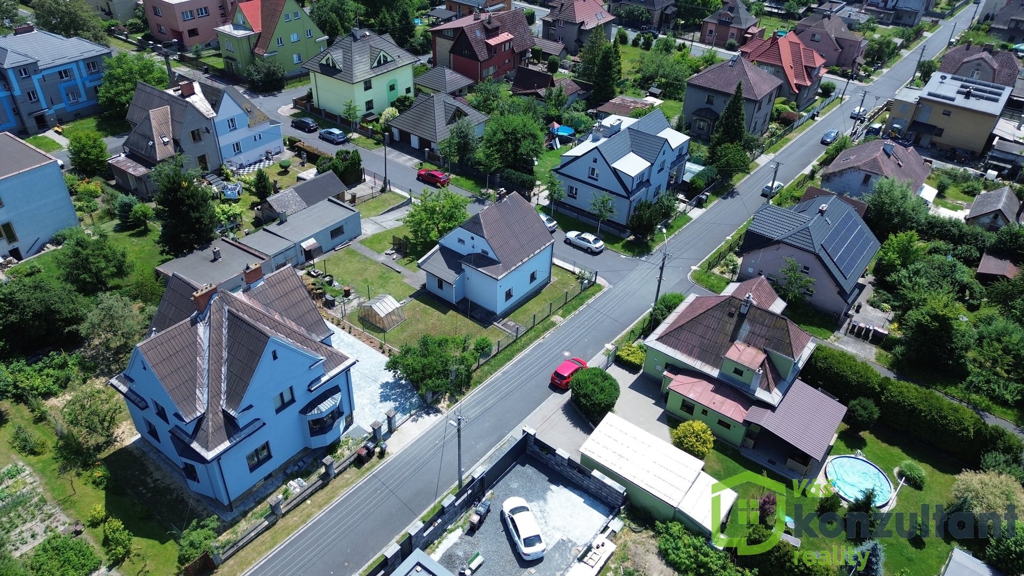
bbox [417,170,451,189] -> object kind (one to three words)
car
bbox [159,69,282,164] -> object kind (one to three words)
house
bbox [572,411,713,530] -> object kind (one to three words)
building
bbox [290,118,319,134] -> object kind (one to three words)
car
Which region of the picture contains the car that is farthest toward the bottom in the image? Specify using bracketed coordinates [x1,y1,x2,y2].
[500,500,550,563]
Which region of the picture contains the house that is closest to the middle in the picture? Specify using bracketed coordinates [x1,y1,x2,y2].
[412,181,558,316]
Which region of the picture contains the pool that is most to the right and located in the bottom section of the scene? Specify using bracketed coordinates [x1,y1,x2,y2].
[822,452,893,514]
